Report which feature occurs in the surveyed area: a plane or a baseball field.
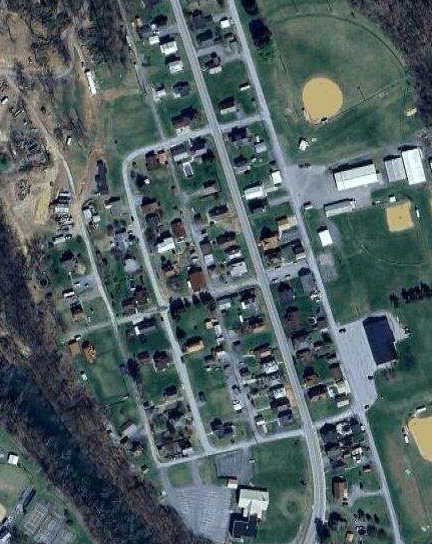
baseball field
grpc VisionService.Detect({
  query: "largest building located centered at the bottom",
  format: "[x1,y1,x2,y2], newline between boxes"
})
[234,488,269,536]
